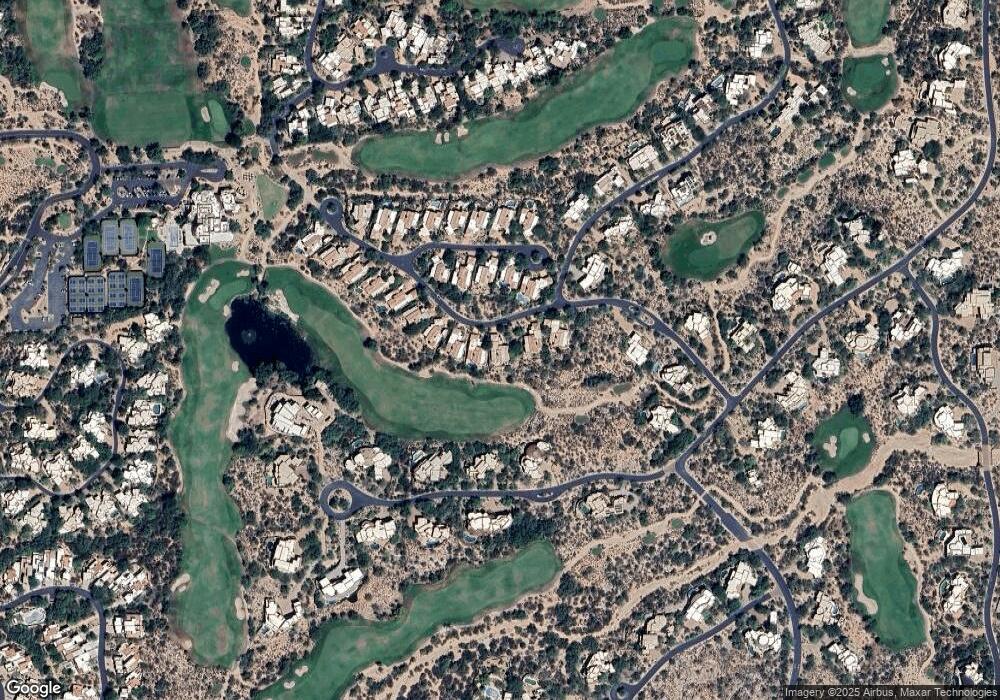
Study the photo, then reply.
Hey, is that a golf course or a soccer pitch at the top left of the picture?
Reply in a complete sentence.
There is a golf course at the top left of the picture.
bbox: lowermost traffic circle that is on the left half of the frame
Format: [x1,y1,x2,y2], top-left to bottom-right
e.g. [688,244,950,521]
[321,480,360,519]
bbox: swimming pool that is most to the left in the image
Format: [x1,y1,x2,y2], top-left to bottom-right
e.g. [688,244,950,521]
[24,609,45,625]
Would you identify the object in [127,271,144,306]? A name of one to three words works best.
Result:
tennis court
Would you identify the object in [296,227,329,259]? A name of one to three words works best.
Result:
house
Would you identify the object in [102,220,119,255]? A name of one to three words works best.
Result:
tennis court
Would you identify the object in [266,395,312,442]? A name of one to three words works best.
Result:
house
